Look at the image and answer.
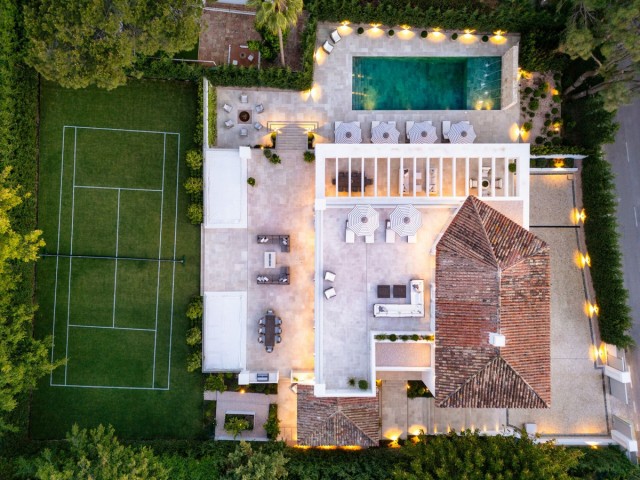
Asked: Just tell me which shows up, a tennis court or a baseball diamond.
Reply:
tennis court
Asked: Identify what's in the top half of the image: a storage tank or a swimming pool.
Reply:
swimming pool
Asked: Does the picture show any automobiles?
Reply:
No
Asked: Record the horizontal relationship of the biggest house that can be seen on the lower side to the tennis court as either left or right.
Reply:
on its right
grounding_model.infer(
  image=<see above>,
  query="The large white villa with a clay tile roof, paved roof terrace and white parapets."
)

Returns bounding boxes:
[314,195,552,409]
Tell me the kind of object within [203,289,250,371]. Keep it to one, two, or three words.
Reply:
building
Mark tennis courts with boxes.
[32,99,191,415]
